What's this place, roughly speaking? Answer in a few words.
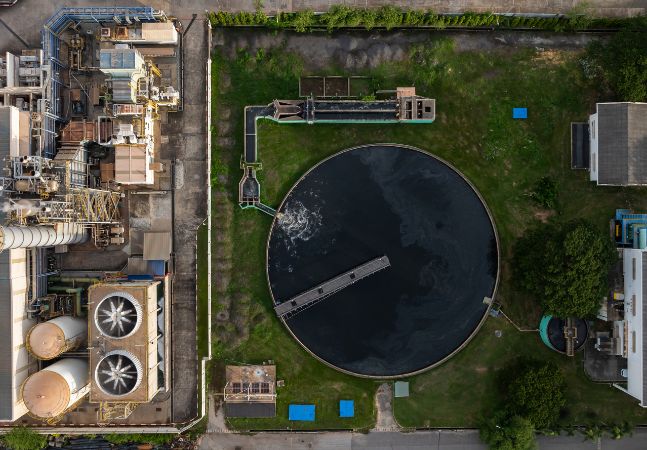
industrial area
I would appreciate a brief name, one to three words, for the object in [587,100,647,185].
house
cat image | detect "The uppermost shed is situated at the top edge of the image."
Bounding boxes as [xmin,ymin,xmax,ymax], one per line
[140,22,181,49]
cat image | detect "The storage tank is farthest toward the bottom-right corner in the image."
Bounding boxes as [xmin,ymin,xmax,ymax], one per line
[539,310,589,356]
